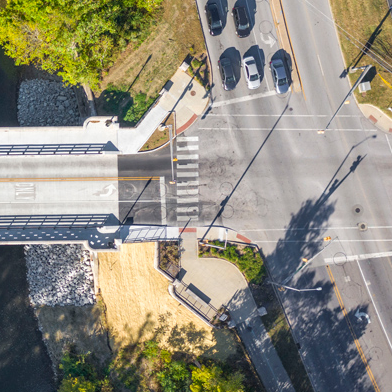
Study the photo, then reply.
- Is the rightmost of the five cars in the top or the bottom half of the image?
top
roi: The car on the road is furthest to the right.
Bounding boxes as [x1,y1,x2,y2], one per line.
[269,58,290,95]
